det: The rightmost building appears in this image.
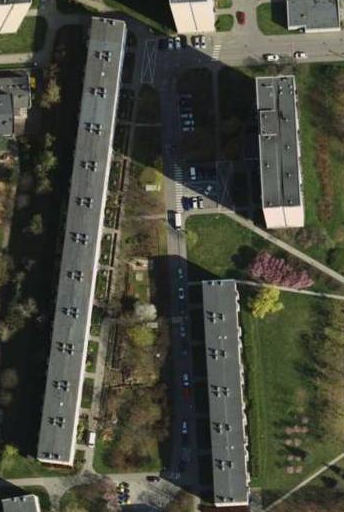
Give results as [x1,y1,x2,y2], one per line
[286,0,339,34]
